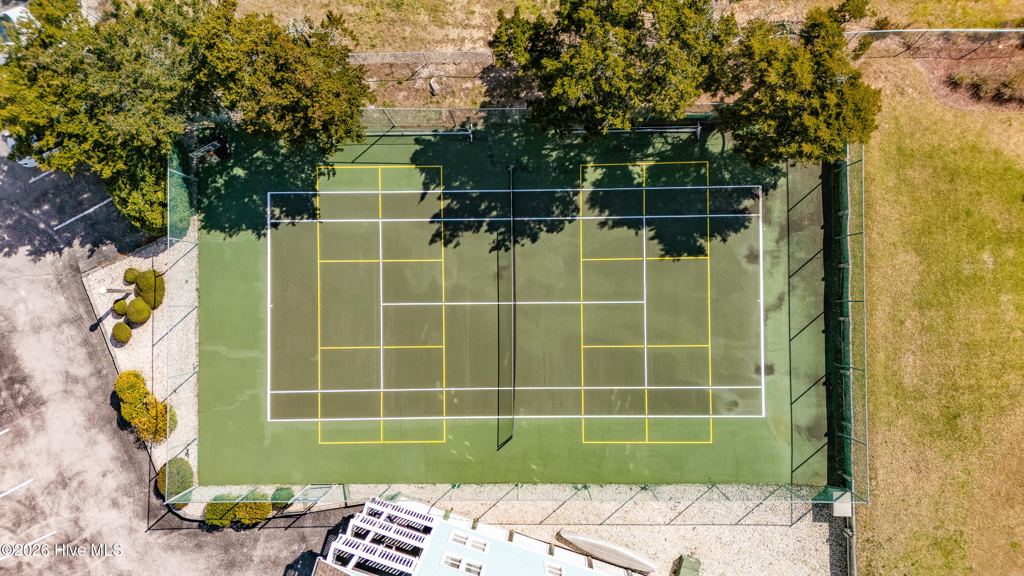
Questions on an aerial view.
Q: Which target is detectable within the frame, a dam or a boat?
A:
boat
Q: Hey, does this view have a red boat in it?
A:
No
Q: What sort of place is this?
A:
sports ground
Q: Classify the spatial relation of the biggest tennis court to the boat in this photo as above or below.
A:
above it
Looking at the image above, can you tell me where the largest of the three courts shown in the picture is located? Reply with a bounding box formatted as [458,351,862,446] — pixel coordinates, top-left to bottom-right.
[197,123,829,485]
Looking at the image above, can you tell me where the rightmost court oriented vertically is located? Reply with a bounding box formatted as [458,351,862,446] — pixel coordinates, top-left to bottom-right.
[580,161,712,443]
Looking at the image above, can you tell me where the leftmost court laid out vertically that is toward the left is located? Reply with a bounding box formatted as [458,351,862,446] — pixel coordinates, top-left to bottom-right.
[317,165,445,444]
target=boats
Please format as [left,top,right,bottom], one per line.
[559,531,656,575]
